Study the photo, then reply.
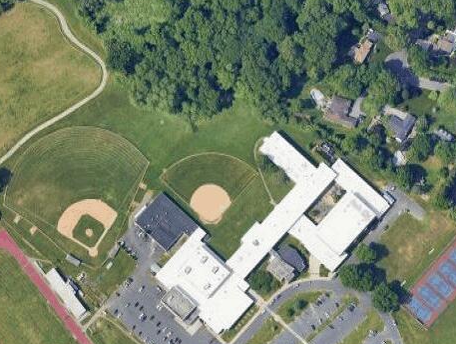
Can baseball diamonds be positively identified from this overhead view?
Yes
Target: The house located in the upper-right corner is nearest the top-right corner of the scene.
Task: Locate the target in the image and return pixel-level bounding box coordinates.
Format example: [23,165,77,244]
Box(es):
[418,32,456,53]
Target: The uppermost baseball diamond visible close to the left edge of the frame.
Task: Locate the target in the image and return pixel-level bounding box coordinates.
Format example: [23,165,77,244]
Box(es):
[4,125,148,268]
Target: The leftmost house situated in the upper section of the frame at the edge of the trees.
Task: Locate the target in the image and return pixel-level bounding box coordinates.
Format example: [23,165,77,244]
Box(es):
[324,96,356,129]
